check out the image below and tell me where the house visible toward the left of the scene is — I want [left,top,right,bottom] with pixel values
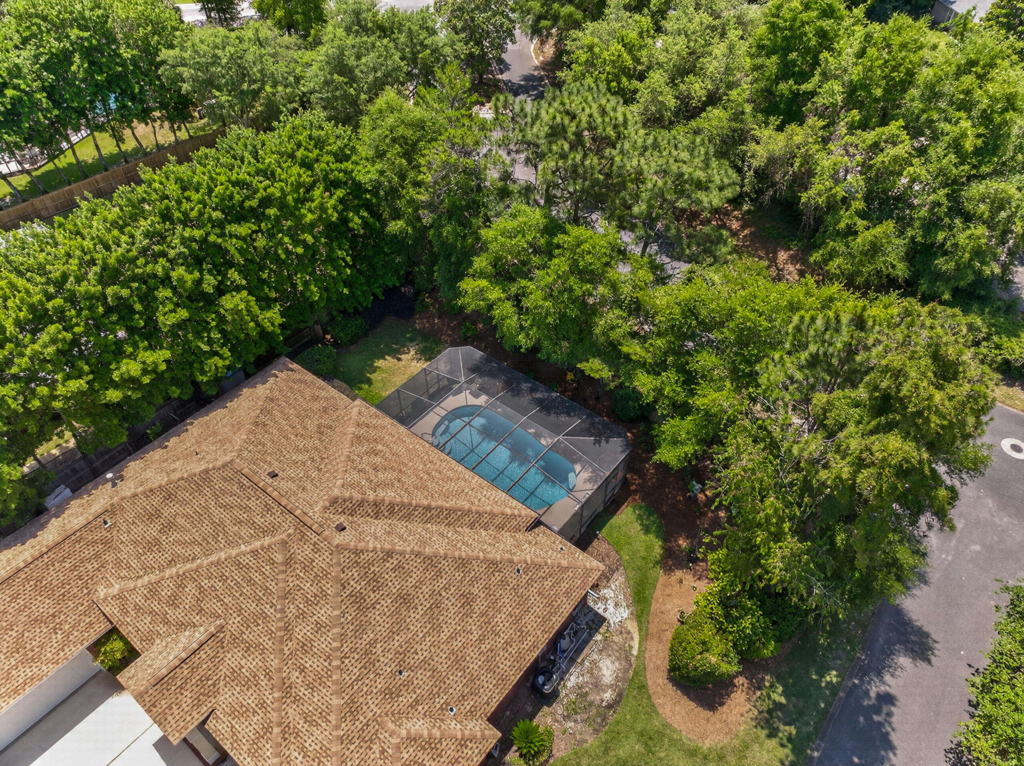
[0,356,607,766]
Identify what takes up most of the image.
trees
